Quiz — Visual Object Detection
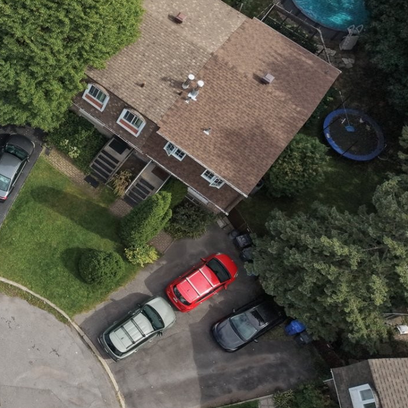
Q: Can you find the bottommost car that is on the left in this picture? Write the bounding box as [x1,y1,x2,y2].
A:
[98,295,179,363]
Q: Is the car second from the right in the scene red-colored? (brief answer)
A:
Yes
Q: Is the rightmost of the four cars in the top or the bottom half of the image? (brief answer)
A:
bottom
